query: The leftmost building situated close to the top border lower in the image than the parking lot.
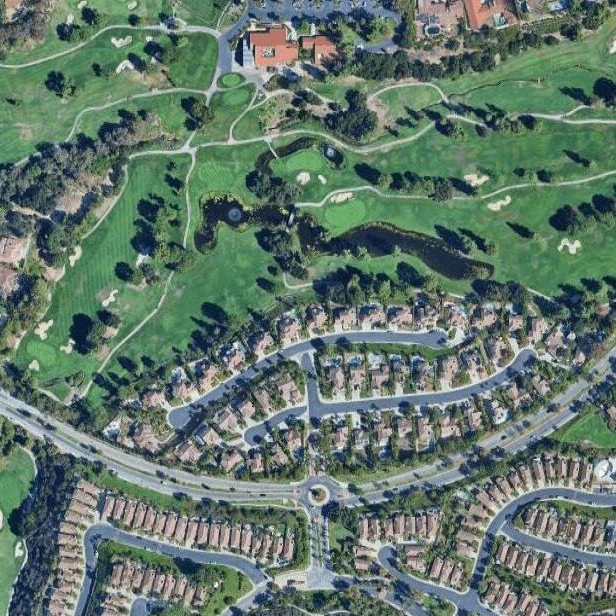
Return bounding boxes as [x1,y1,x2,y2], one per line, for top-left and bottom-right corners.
[243,27,298,67]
